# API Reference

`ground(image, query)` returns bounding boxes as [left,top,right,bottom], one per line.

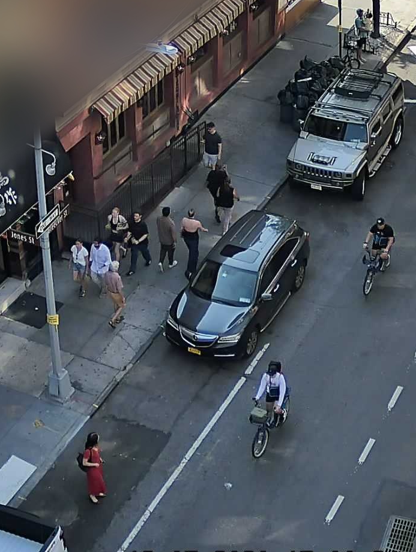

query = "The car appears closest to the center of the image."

[160,199,315,362]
